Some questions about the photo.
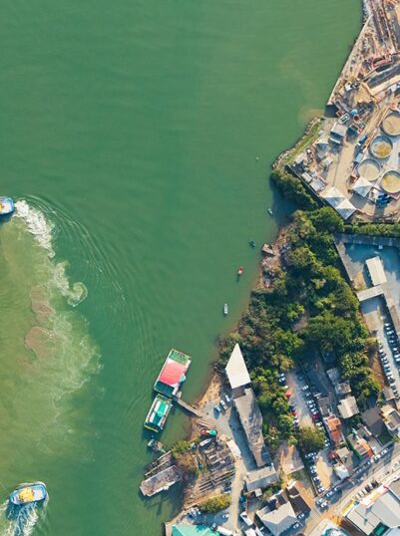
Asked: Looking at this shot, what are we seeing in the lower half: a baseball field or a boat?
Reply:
boat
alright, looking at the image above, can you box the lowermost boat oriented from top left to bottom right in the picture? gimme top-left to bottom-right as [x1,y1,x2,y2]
[148,439,166,454]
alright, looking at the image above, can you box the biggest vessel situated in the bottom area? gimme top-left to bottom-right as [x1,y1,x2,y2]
[154,349,191,398]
